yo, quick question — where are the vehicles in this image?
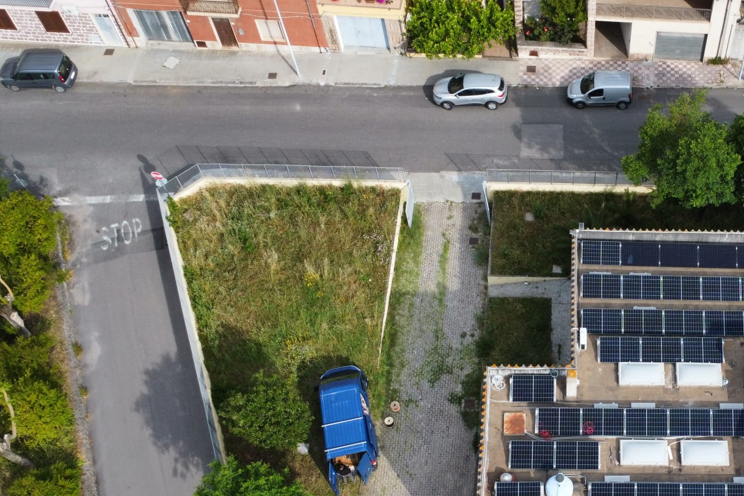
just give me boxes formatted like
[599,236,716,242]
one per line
[318,370,382,490]
[568,69,636,110]
[430,70,509,110]
[0,52,76,92]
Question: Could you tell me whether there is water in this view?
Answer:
No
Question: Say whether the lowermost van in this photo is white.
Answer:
No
